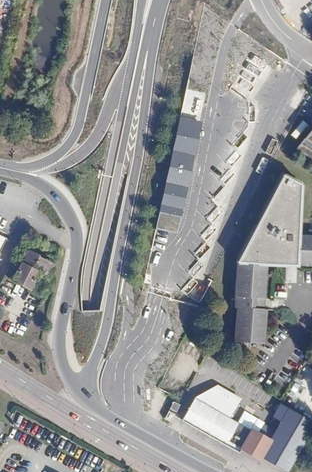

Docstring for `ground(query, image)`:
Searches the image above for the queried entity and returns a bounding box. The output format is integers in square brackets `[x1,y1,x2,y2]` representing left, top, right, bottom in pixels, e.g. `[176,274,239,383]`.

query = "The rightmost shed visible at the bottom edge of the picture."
[265,404,308,472]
